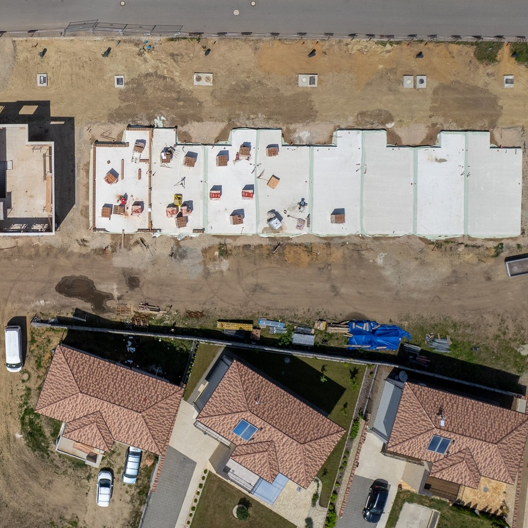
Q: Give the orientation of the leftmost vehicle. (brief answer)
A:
from top to bottom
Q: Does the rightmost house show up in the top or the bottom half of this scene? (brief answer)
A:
bottom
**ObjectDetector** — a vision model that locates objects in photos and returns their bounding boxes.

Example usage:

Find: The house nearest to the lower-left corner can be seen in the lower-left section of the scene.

[35,344,185,468]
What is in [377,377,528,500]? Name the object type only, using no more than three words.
house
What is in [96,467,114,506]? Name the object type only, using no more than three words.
car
